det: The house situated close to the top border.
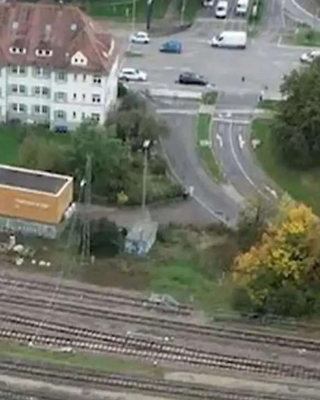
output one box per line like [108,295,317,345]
[0,0,121,129]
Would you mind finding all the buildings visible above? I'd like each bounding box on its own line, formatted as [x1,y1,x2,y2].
[0,0,121,129]
[0,166,68,238]
[126,214,165,257]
